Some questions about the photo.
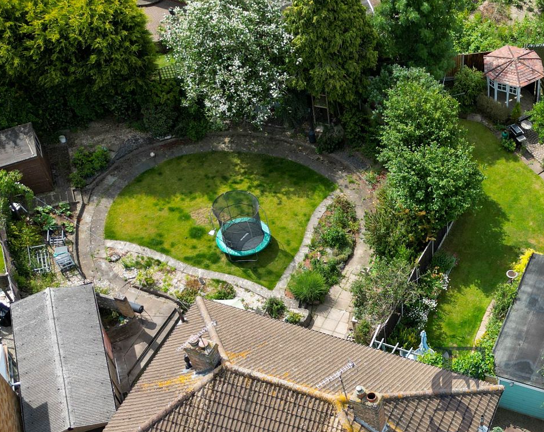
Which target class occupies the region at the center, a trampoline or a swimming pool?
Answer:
trampoline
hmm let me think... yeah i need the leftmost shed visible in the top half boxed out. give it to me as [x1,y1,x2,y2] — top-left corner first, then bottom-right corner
[0,131,49,208]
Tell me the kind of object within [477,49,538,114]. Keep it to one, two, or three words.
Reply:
gazebo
